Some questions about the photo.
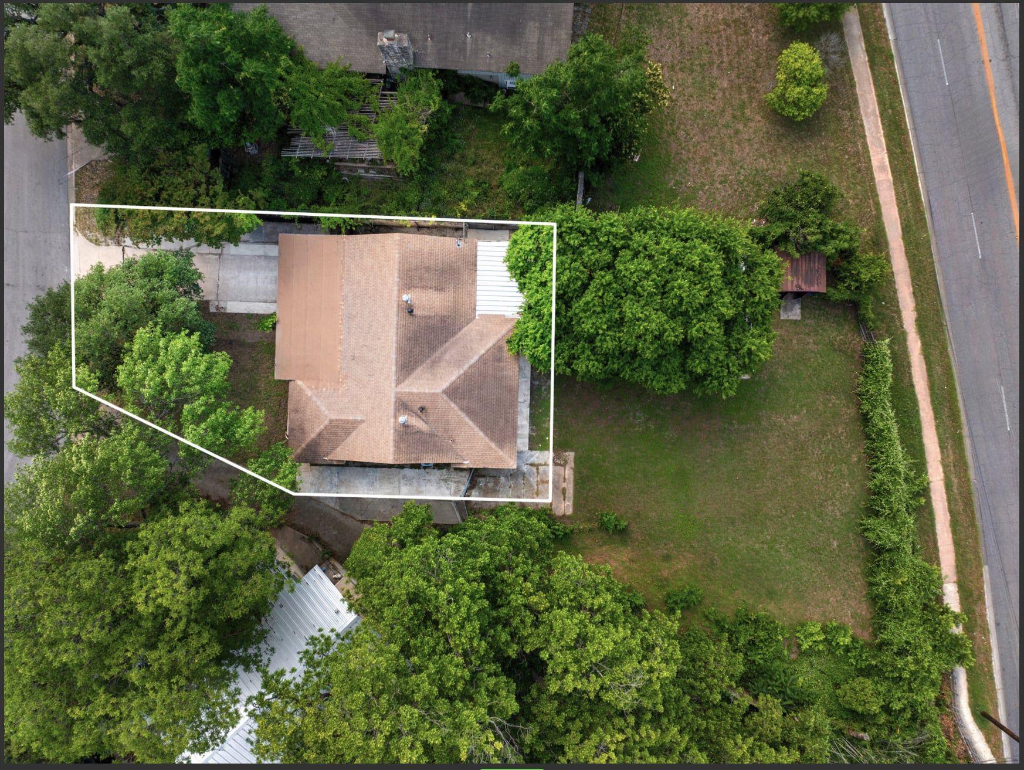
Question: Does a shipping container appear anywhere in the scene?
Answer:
No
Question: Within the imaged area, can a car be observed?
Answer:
No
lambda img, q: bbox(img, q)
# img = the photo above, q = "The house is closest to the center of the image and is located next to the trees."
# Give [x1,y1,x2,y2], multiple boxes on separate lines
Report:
[273,230,531,468]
